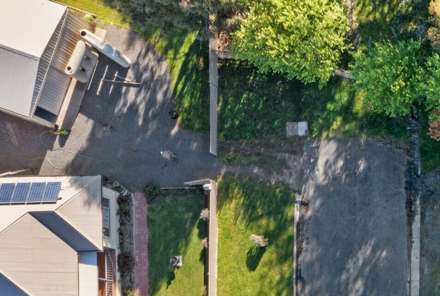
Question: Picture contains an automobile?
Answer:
No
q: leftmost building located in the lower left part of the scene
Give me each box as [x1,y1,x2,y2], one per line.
[0,174,123,296]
